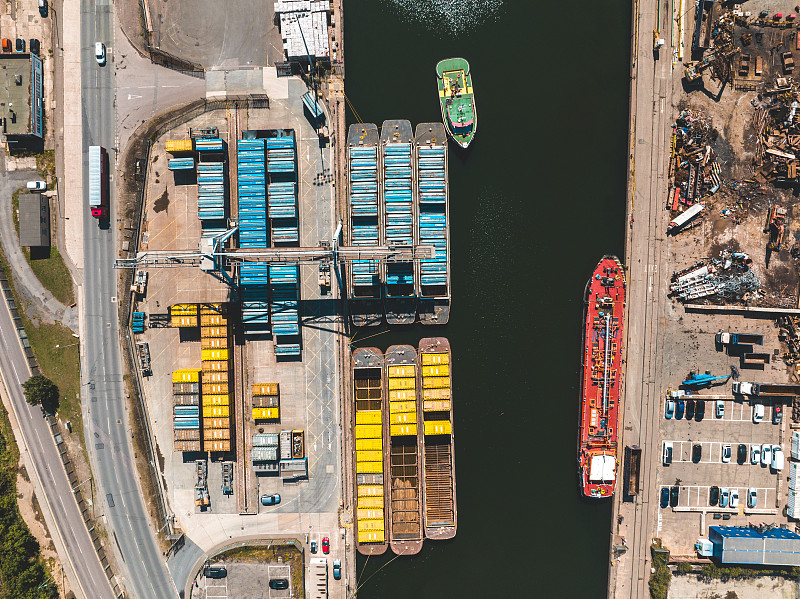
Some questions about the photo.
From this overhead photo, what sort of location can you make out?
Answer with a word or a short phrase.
port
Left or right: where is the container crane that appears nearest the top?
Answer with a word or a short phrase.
left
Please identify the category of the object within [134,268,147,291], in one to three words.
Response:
vehicle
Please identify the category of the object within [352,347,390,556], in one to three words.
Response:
ship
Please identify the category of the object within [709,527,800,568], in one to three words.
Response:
building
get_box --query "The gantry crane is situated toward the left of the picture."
[115,219,437,296]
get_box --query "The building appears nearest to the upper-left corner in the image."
[0,53,43,138]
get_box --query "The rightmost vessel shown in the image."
[576,256,625,498]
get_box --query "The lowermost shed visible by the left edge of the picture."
[20,194,49,248]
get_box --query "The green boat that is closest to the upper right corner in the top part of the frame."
[434,56,478,151]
